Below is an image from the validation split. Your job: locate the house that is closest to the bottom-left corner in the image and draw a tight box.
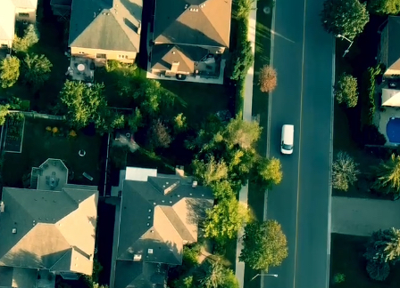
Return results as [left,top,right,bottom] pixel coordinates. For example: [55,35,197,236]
[0,184,99,288]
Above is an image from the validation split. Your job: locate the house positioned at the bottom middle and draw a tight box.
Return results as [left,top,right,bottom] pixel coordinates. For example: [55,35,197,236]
[113,164,213,288]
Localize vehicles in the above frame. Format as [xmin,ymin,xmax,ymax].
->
[281,123,294,157]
